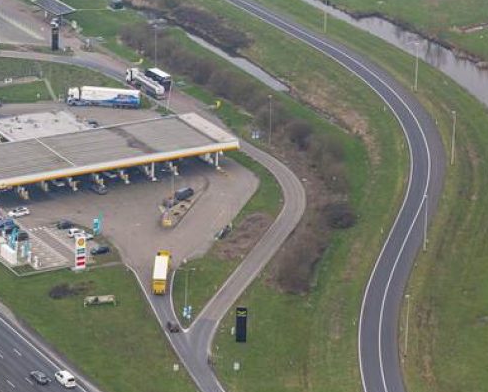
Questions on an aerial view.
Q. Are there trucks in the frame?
Yes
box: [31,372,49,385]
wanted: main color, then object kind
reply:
gray vehicle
